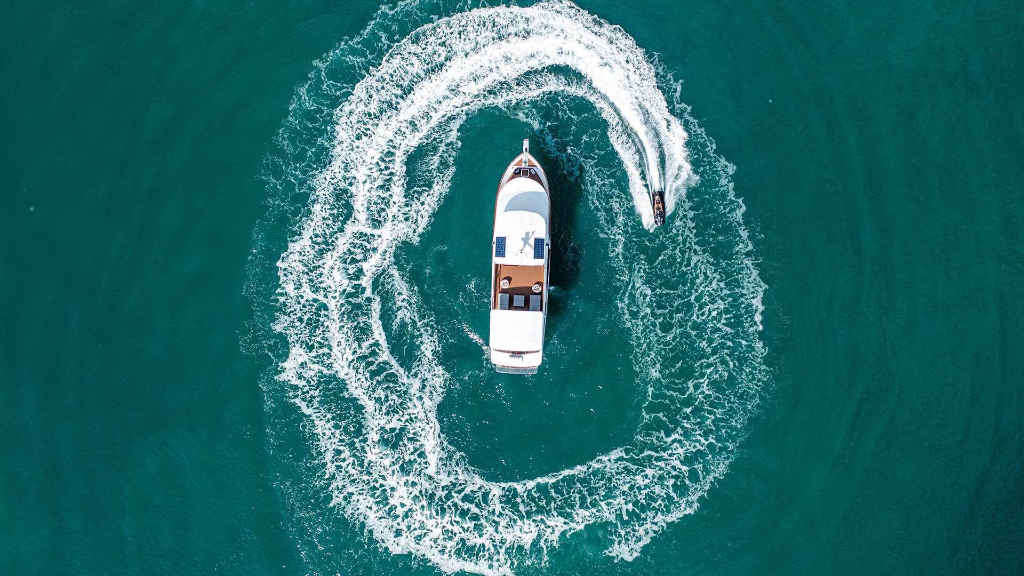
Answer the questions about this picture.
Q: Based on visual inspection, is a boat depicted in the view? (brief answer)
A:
Yes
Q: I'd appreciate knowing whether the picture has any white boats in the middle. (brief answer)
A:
Yes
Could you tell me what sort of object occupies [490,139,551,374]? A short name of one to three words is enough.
boat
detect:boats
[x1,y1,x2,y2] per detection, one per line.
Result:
[490,139,551,374]
[651,192,665,227]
